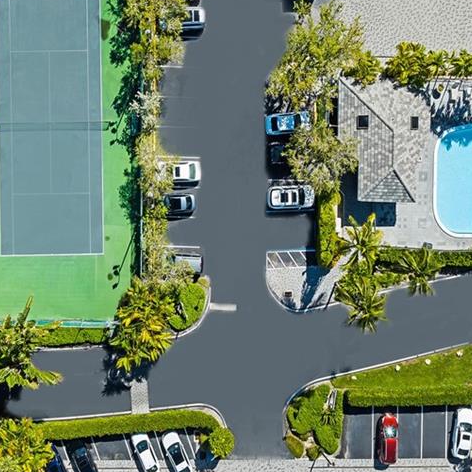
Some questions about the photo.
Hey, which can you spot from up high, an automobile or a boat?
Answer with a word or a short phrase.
automobile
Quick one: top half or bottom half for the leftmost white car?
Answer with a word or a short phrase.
bottom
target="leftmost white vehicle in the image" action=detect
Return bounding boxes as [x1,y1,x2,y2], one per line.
[131,437,161,472]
